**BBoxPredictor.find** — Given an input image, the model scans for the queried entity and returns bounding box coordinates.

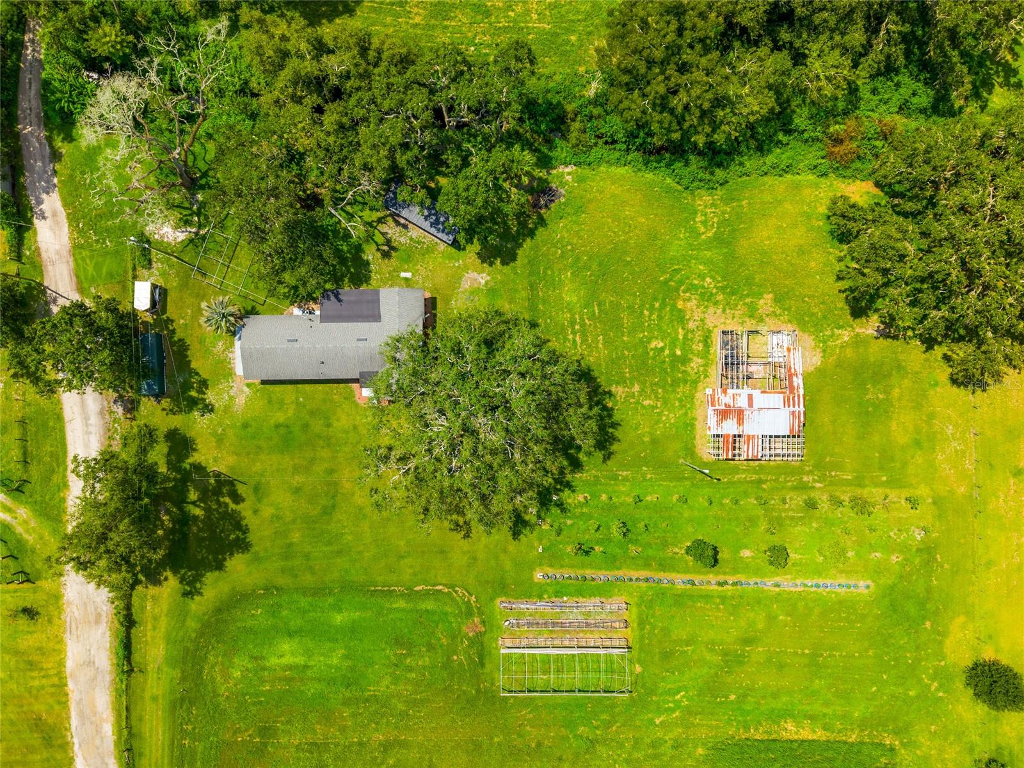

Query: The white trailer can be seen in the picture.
[134,281,166,321]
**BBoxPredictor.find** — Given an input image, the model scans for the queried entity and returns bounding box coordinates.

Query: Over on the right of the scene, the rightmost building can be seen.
[705,324,806,467]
